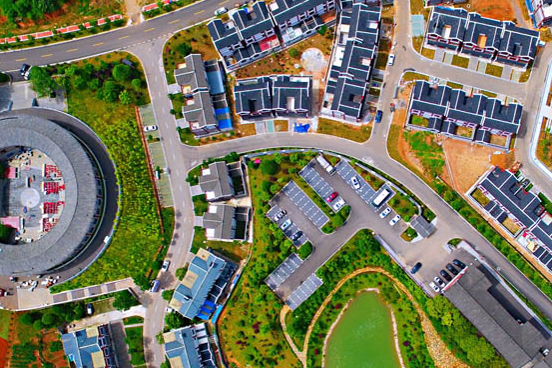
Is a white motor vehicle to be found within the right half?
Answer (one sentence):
Yes, looking within the right half, one can make out a white motor vehicle.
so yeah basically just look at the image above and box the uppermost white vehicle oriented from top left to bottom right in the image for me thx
[314,153,331,172]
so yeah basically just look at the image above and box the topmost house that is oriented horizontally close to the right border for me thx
[422,3,540,72]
